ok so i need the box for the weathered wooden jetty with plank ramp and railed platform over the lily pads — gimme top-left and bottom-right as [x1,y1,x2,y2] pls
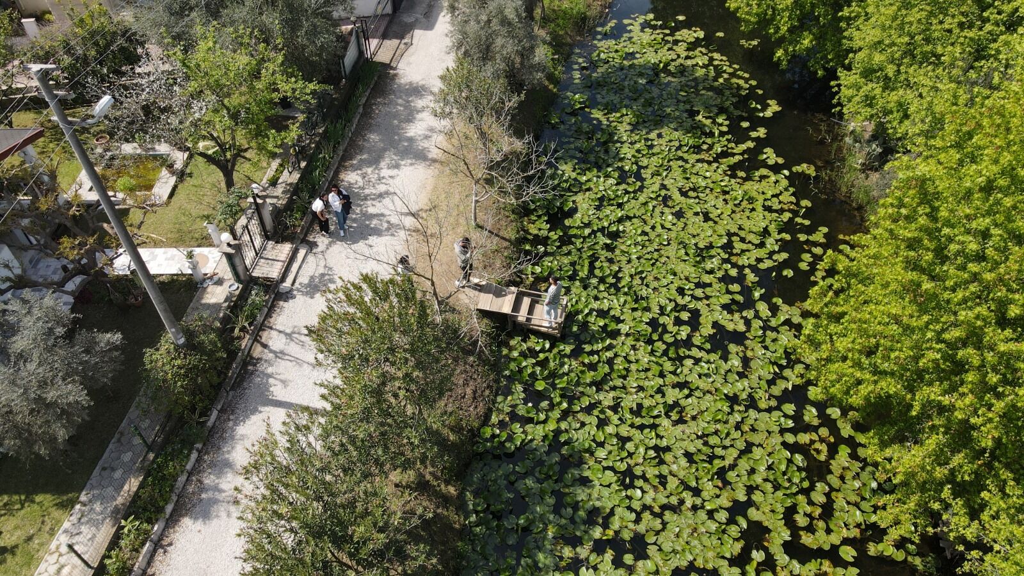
[468,279,568,348]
